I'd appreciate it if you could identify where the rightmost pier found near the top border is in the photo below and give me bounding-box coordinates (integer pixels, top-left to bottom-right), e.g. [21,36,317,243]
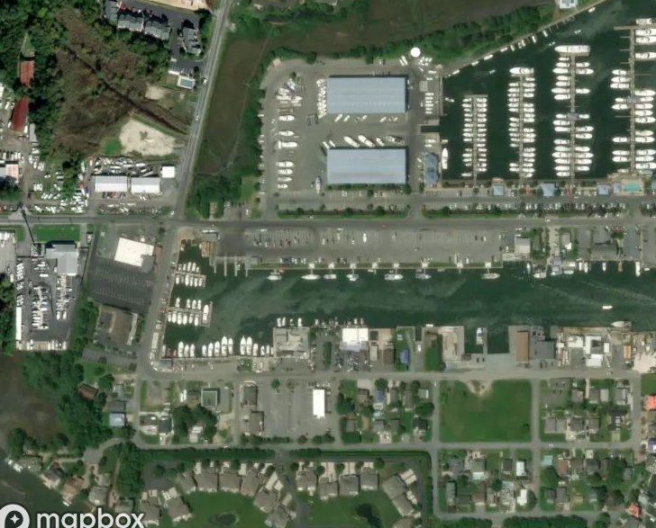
[614,24,656,175]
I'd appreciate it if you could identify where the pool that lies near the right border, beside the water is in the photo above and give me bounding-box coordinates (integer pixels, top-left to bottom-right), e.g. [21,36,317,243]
[622,180,644,195]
